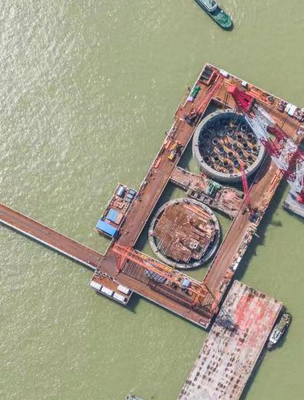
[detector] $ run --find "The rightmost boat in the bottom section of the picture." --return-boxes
[261,309,291,354]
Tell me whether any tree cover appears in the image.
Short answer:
No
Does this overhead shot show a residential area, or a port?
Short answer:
port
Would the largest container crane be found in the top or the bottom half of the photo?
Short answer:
bottom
